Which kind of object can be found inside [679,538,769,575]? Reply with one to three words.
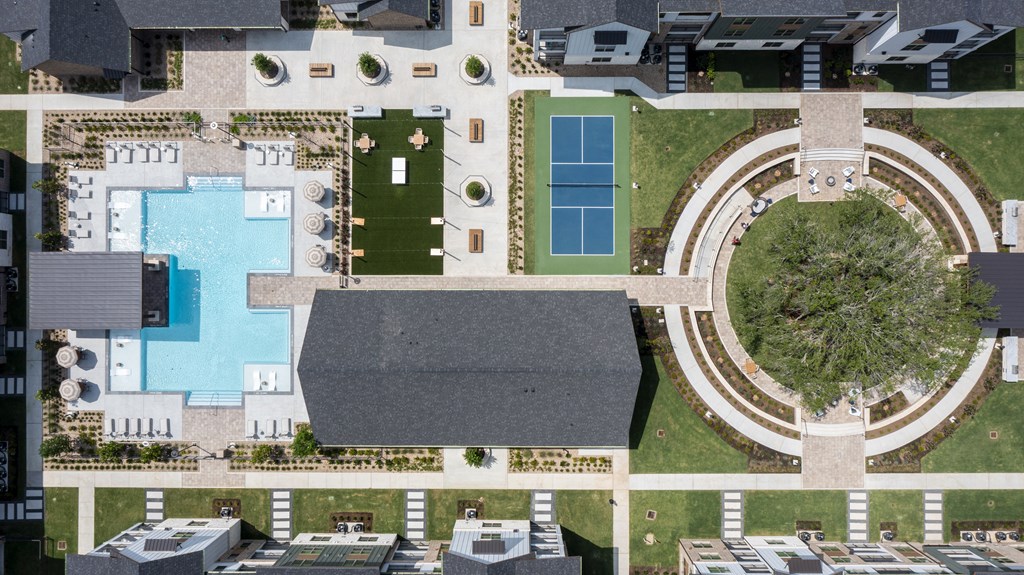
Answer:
house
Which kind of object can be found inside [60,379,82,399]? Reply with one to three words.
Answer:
umbrella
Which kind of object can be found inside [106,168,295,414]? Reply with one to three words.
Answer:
swimming pool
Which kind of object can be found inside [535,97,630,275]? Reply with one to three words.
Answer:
sports court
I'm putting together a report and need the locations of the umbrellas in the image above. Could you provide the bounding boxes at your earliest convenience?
[303,213,324,234]
[57,346,79,367]
[304,181,325,201]
[305,247,327,267]
[60,379,82,399]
